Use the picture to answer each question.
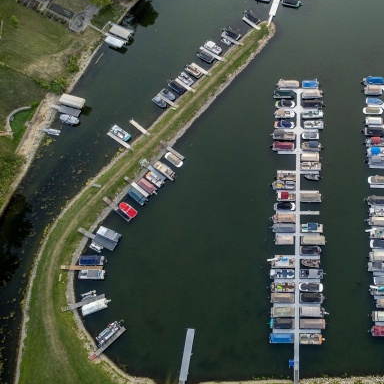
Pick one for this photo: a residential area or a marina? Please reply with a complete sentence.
The area seen from above is a marina.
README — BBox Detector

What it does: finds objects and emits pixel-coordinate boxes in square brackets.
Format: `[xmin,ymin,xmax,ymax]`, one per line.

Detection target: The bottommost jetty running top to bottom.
[179,329,195,384]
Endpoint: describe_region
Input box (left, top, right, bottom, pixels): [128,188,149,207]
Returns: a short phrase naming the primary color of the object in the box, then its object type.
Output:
blue boat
